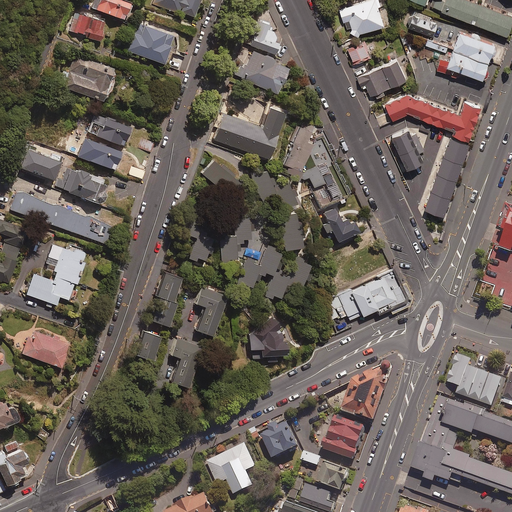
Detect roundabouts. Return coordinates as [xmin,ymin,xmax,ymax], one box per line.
[418,300,443,352]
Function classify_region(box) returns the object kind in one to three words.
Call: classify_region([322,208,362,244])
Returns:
house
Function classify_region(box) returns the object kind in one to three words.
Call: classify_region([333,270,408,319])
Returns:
building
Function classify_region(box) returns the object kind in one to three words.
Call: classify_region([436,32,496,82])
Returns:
building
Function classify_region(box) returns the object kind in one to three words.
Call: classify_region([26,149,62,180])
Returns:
house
